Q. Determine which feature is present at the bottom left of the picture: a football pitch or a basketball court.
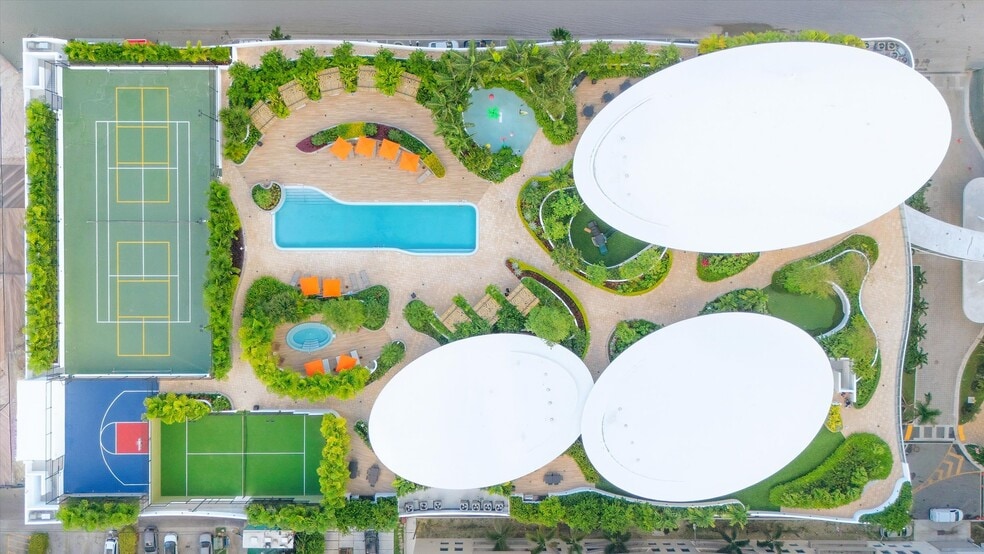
basketball court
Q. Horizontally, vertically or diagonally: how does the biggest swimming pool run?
horizontally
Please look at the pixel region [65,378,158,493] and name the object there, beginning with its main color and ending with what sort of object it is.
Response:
blue basketball court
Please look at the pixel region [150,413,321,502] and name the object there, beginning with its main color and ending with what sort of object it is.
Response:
green sports court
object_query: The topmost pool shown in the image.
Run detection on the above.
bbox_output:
[273,181,479,255]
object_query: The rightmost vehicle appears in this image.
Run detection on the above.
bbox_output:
[926,506,964,524]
